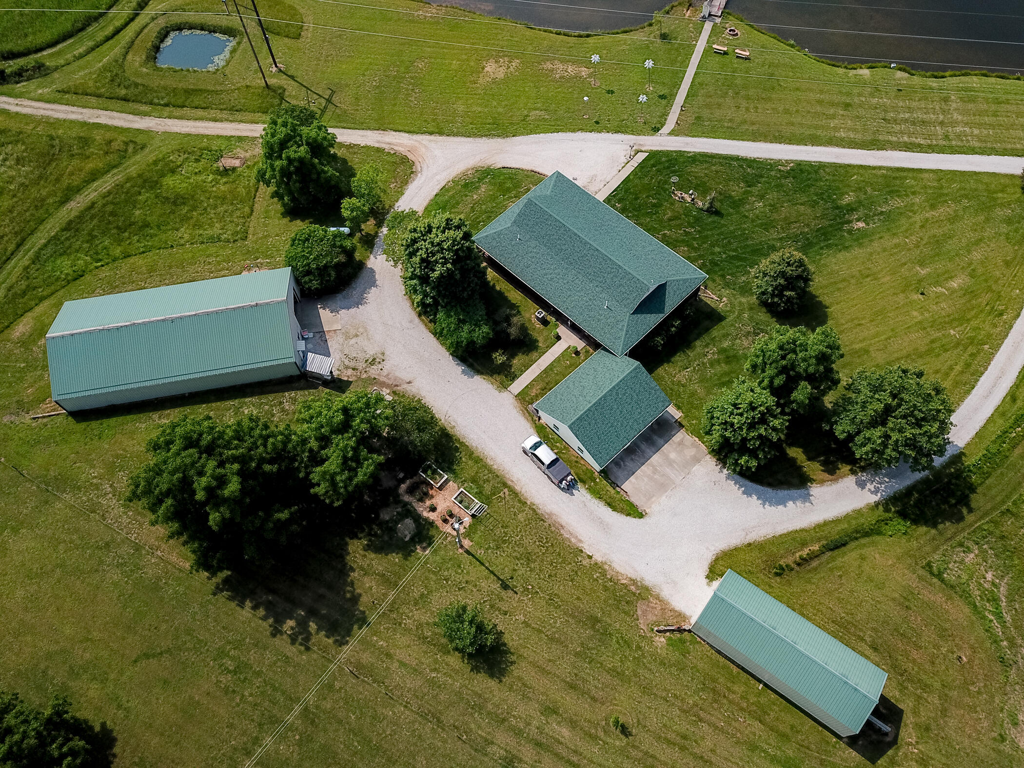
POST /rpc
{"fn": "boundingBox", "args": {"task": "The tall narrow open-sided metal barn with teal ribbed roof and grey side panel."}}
[687,569,888,737]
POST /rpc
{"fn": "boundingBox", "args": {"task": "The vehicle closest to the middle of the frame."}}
[520,435,571,488]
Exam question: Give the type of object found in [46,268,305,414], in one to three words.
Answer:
shed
